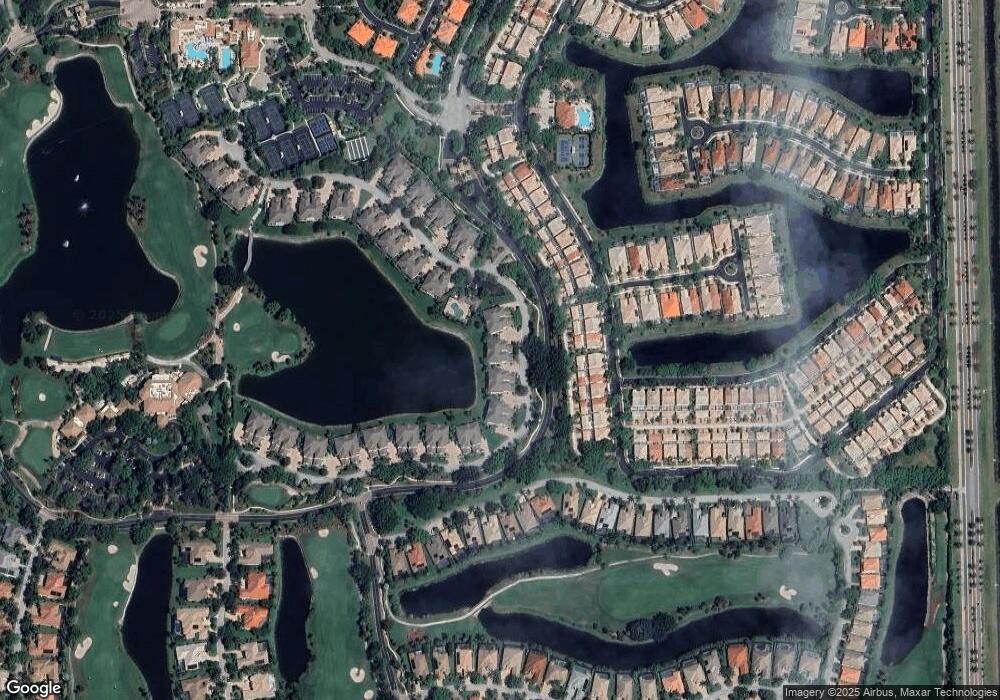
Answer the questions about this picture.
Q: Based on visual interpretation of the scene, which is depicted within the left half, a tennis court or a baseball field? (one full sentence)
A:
You can see a tennis court within the left half.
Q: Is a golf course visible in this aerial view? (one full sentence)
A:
Yes, I can see a golf course in this picture.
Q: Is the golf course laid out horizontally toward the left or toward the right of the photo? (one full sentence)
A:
The golf course laid out horizontally appears in the right half of the scene.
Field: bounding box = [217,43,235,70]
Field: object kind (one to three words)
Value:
swimming pool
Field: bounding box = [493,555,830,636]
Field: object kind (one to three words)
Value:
golf course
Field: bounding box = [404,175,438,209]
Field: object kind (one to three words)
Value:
house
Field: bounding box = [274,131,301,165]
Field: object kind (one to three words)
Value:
tennis court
